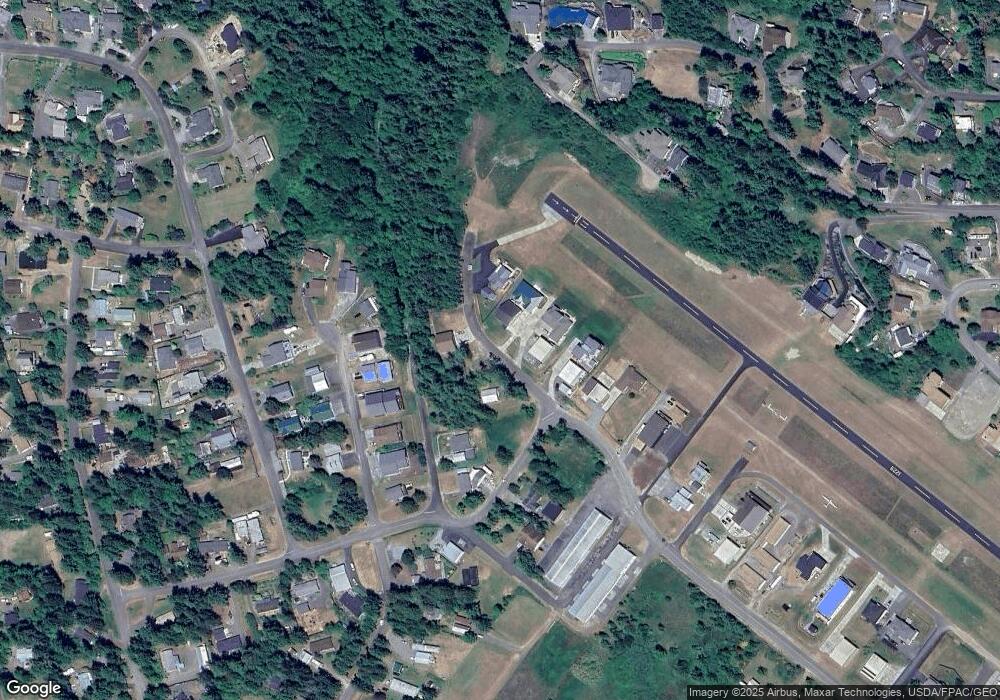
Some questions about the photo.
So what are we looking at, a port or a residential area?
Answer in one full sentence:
The area seen from above is a residential area.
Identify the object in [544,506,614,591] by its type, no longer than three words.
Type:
building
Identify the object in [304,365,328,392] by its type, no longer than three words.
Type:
shed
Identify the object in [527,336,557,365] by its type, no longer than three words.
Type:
hangar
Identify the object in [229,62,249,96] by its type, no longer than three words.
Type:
house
